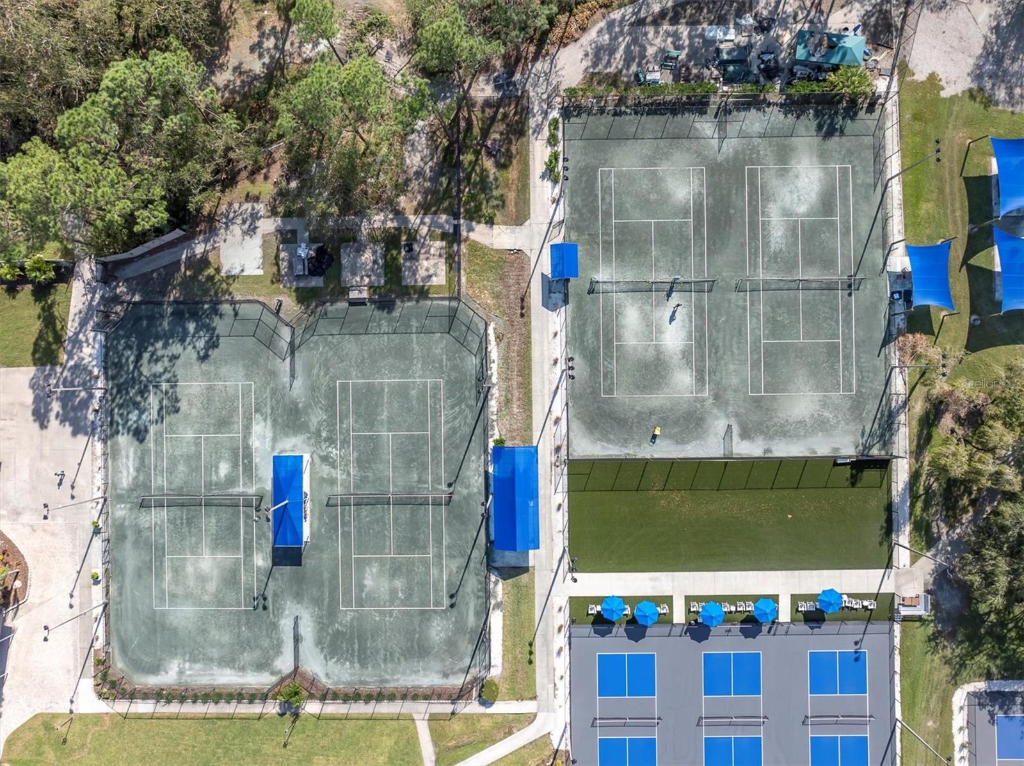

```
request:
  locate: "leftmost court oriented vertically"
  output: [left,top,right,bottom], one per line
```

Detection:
[110,303,298,687]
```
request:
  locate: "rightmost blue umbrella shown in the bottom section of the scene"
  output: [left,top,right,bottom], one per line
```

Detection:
[816,589,840,612]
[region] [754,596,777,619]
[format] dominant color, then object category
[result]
blue umbrella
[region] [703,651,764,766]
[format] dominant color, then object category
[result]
blue sports court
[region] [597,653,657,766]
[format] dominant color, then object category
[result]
blue sports court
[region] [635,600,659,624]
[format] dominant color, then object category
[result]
blue umbrella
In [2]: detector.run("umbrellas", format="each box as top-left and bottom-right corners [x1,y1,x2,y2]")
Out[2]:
[601,598,624,620]
[635,600,659,624]
[816,589,840,612]
[754,596,777,619]
[700,603,724,626]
